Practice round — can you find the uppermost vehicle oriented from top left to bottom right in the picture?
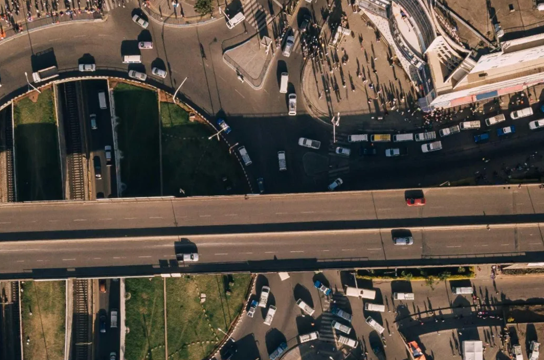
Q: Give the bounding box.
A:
[131,14,151,29]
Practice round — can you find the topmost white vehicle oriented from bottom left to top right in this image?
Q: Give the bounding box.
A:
[224,12,246,30]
